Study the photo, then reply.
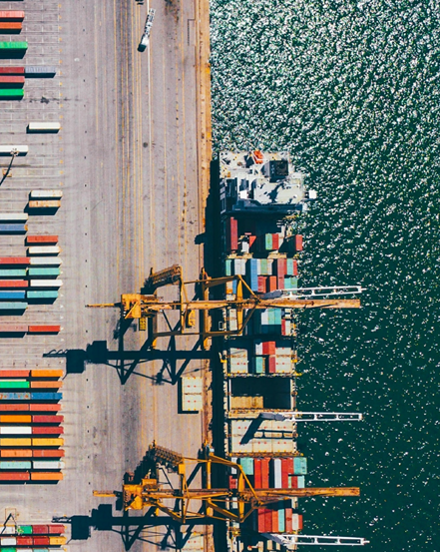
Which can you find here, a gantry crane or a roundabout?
gantry crane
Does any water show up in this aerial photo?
Yes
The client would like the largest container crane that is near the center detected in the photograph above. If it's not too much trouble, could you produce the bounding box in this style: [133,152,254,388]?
[85,264,360,355]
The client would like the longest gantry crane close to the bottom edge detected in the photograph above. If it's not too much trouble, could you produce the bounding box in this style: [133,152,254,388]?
[87,440,364,525]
